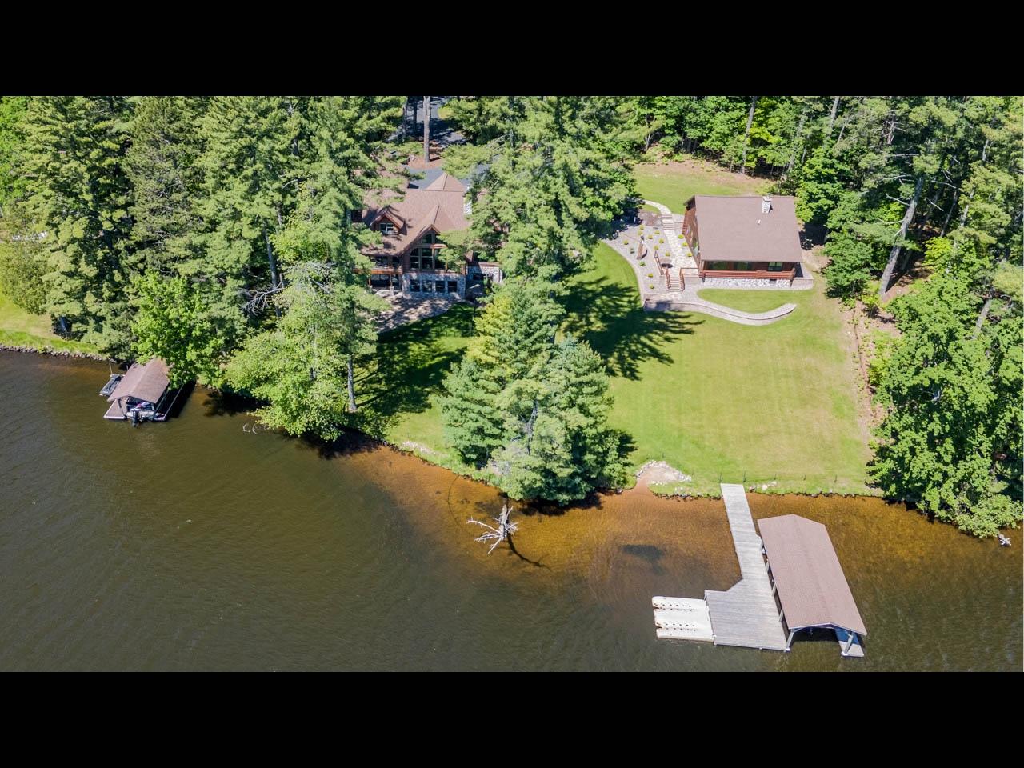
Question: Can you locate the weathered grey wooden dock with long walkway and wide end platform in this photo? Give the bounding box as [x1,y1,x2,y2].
[703,483,788,656]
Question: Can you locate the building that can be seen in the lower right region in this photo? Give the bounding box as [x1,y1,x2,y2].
[755,510,867,663]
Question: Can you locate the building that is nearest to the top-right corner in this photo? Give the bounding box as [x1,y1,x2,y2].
[680,187,804,285]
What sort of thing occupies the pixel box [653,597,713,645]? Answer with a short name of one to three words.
pier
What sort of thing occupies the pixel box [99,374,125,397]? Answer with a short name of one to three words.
boat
